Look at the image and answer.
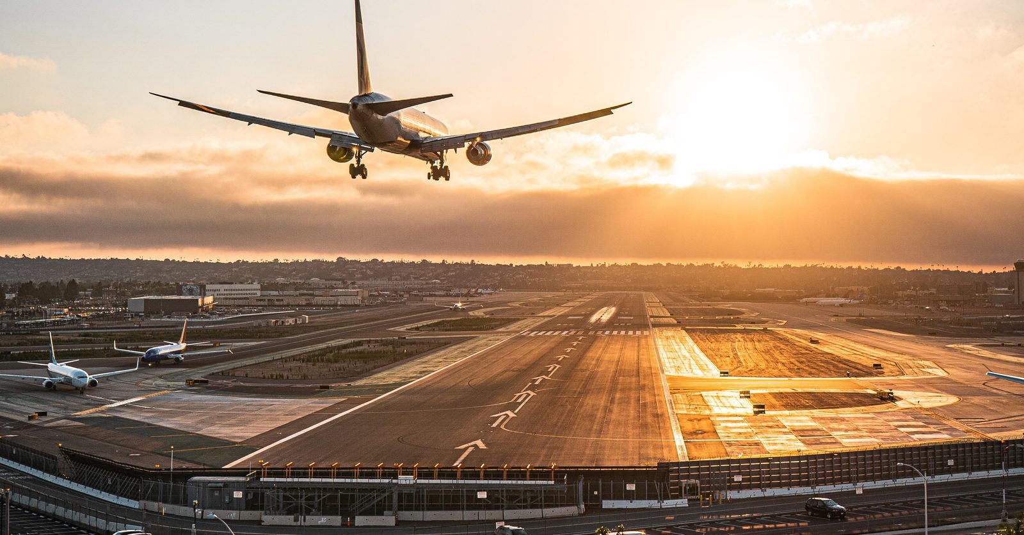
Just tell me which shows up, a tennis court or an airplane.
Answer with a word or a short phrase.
airplane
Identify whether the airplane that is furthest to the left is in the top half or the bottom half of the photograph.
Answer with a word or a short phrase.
bottom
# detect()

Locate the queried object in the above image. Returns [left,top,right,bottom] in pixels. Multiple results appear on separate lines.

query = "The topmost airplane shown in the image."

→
[150,0,636,181]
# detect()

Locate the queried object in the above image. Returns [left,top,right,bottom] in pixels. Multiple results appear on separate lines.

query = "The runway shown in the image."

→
[200,293,705,500]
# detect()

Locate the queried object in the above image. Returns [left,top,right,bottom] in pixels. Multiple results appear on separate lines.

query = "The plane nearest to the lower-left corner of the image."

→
[0,332,138,392]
